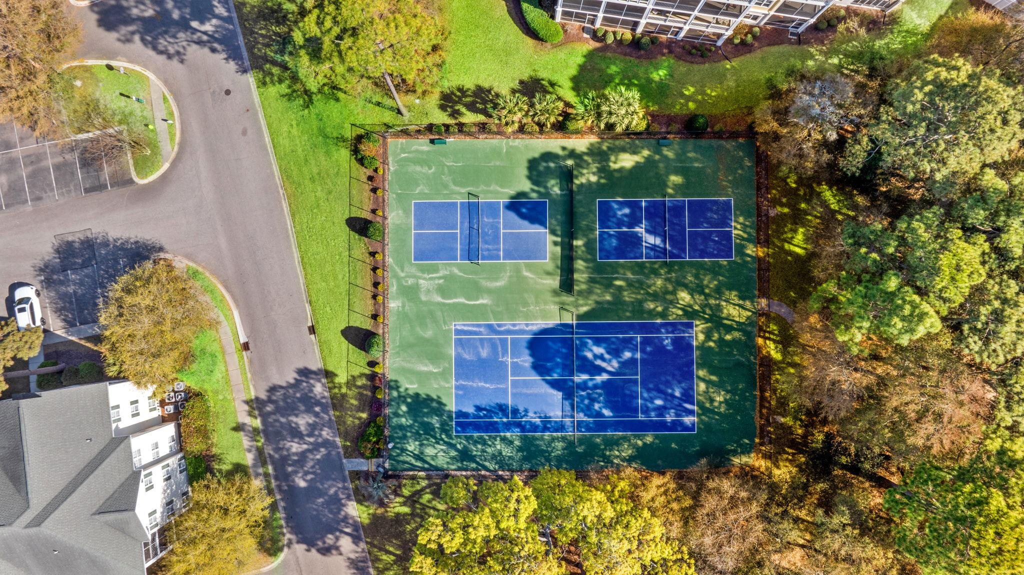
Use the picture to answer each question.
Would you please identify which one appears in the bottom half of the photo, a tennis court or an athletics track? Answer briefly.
tennis court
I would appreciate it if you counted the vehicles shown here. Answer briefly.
1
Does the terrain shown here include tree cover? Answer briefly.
Yes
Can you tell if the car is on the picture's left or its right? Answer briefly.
left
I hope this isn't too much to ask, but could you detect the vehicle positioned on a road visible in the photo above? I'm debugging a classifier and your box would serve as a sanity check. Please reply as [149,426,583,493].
[12,281,45,331]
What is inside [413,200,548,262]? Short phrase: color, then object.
blue sports court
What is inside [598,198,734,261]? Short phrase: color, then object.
blue sports court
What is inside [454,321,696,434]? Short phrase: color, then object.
blue tennis court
